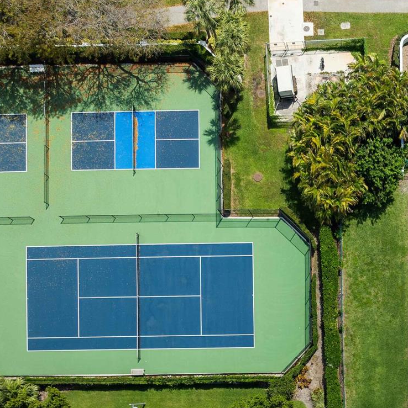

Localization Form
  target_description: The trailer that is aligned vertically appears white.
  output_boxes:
[276,64,297,106]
